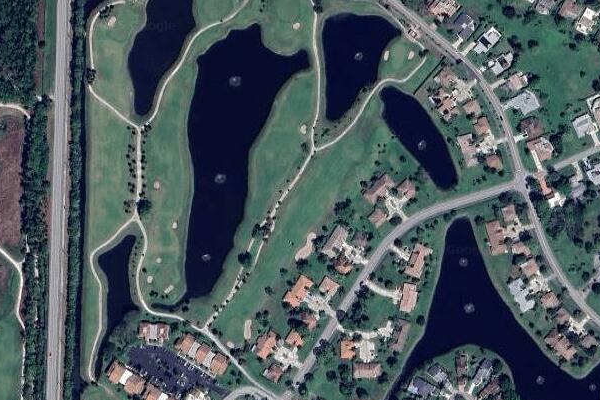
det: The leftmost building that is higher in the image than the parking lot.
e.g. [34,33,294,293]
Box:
[136,324,168,346]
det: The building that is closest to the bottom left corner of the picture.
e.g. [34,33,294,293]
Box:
[105,363,145,395]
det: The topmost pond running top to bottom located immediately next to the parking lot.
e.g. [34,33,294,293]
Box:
[92,234,138,379]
